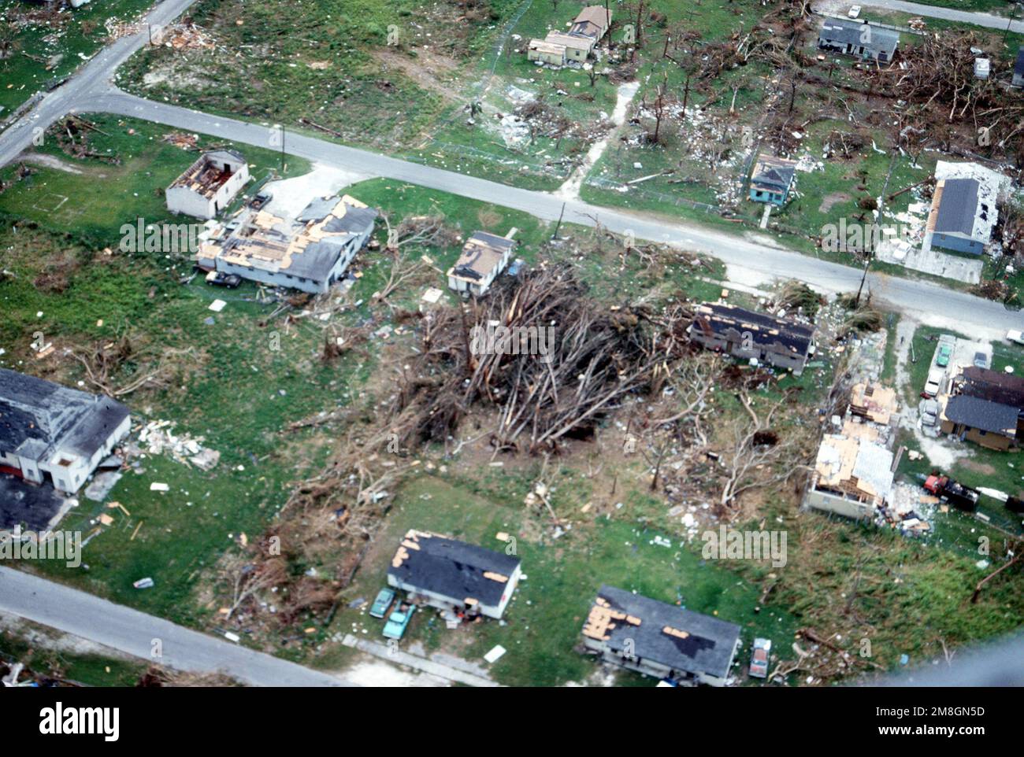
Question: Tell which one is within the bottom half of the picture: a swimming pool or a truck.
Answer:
truck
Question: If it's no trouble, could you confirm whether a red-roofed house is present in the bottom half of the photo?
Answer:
No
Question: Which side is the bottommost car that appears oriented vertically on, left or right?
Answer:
right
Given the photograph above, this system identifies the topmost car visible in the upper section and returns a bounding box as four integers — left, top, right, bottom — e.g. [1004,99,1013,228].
[848,5,860,18]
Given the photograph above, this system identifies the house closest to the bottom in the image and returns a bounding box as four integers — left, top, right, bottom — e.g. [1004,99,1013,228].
[582,585,740,697]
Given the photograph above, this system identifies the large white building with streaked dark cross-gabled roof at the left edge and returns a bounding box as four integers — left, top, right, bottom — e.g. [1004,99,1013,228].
[0,368,134,492]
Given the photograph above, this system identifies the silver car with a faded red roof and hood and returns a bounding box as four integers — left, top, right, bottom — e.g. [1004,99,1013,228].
[750,638,770,680]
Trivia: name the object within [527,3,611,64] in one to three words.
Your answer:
house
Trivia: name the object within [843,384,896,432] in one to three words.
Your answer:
house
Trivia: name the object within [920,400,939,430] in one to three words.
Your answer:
car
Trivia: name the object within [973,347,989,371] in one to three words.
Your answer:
car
